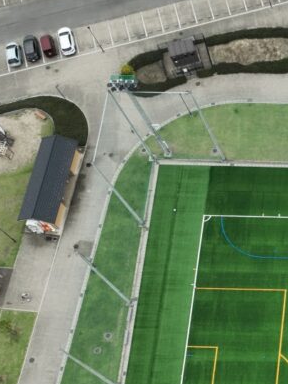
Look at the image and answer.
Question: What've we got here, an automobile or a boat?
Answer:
automobile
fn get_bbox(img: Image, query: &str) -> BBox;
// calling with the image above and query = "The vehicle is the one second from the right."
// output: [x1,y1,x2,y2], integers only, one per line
[40,36,57,59]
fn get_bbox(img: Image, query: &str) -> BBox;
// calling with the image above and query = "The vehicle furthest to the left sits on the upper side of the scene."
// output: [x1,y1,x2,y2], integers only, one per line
[5,43,23,69]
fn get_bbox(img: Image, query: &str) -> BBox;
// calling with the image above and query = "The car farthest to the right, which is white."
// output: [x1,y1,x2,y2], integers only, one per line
[58,28,77,57]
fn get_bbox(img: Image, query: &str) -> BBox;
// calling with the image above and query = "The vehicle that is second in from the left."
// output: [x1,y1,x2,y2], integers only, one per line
[23,36,42,64]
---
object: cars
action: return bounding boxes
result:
[23,36,42,64]
[58,28,77,57]
[5,43,23,69]
[40,36,57,59]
